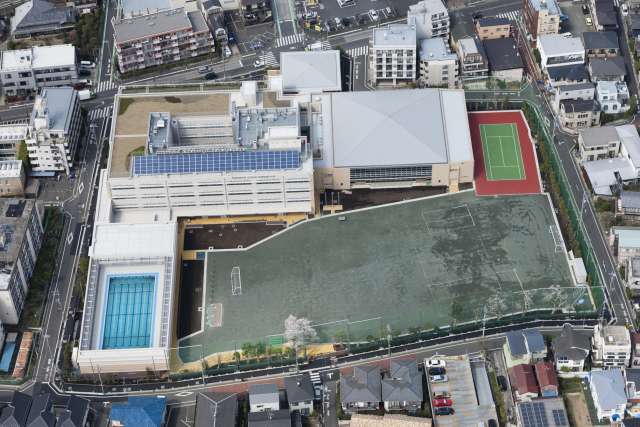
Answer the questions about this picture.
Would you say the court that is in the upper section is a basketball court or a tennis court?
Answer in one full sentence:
The court that is in the upper section appears to be a tennis court.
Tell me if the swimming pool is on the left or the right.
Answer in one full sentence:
The swimming pool sits on the left side.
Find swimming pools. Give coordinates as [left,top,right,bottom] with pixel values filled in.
[99,274,159,348]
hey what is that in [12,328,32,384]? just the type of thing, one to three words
shed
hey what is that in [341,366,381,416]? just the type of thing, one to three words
house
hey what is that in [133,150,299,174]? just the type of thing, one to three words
solar array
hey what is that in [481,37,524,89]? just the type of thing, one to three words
building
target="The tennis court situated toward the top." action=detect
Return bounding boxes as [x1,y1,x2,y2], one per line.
[468,108,541,195]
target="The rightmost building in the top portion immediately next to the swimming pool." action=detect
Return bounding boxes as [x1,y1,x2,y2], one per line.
[94,69,322,246]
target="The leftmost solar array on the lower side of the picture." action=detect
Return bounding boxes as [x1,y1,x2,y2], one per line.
[520,401,546,427]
